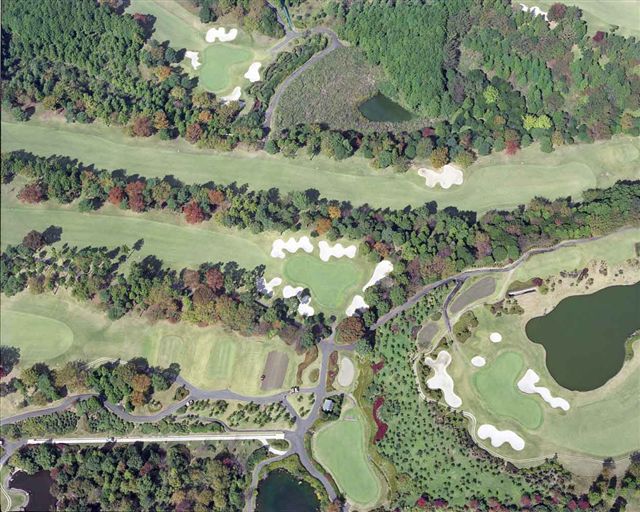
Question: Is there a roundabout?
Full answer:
No, no roundabout can be seen from above.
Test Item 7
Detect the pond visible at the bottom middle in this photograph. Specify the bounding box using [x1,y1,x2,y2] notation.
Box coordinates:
[256,468,320,512]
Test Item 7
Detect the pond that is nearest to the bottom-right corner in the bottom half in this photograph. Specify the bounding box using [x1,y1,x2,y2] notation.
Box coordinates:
[525,282,640,392]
